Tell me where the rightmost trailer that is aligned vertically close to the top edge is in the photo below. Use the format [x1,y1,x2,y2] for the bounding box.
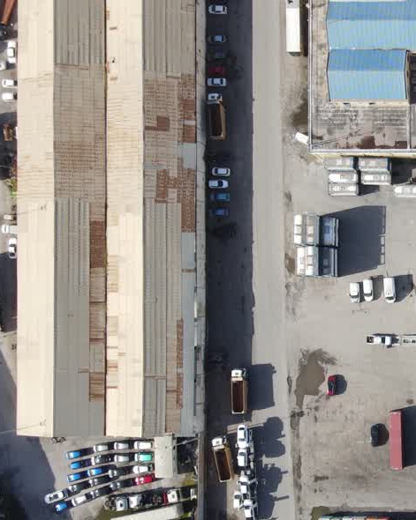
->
[288,7,306,57]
